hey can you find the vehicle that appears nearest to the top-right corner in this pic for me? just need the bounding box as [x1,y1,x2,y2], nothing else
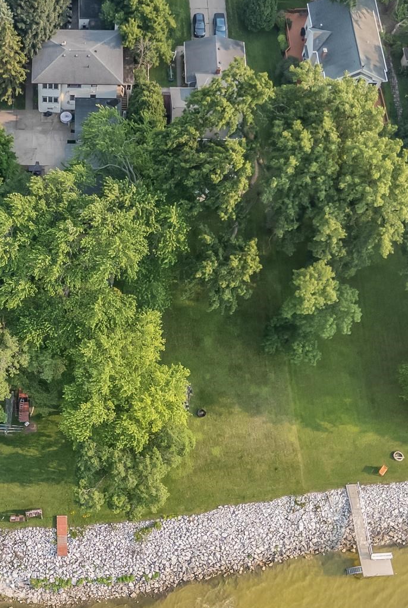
[213,13,228,36]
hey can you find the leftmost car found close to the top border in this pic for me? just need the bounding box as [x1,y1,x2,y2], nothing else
[193,11,207,35]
